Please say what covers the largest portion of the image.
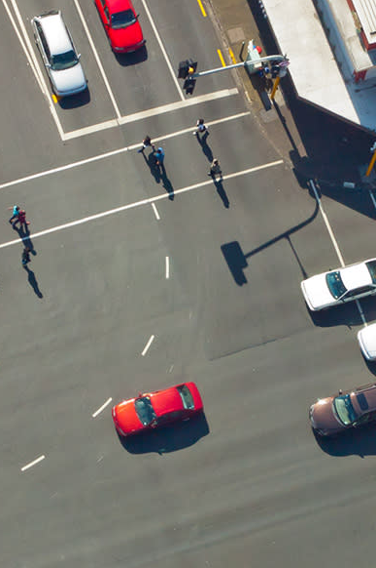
paved ground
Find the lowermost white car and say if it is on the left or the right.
right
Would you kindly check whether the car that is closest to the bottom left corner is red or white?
red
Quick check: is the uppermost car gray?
No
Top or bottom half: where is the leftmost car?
top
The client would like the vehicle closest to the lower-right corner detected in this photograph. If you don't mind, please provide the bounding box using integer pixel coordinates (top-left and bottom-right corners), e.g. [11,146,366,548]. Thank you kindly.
[305,376,376,432]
